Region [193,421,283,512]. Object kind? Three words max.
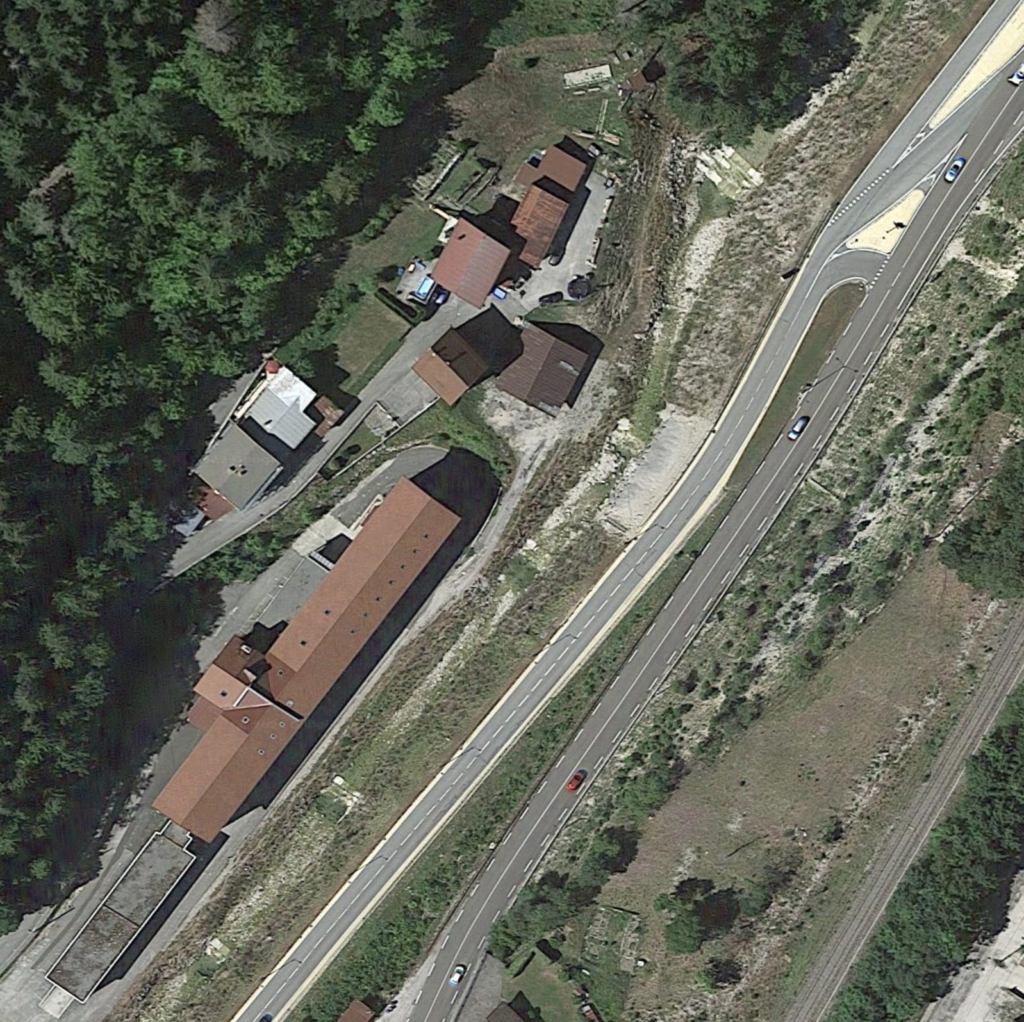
house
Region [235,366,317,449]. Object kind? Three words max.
house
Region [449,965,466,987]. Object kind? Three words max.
car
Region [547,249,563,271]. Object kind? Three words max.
car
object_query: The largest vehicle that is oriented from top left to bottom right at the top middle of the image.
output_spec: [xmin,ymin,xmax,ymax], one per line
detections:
[583,141,605,159]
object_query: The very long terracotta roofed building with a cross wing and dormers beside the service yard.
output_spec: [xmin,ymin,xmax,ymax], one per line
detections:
[152,476,461,843]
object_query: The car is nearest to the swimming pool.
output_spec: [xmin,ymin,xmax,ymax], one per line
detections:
[431,288,447,309]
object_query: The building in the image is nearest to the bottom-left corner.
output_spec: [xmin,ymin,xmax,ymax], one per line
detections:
[46,821,195,1003]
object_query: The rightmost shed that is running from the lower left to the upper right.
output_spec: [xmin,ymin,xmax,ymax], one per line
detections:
[619,70,649,96]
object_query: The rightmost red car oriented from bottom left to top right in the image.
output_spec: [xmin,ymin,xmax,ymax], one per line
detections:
[567,770,586,793]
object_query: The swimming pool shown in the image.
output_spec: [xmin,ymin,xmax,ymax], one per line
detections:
[416,276,433,298]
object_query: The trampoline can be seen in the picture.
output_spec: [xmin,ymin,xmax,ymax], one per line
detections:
[570,279,588,297]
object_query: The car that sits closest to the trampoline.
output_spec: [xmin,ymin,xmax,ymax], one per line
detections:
[540,291,563,304]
